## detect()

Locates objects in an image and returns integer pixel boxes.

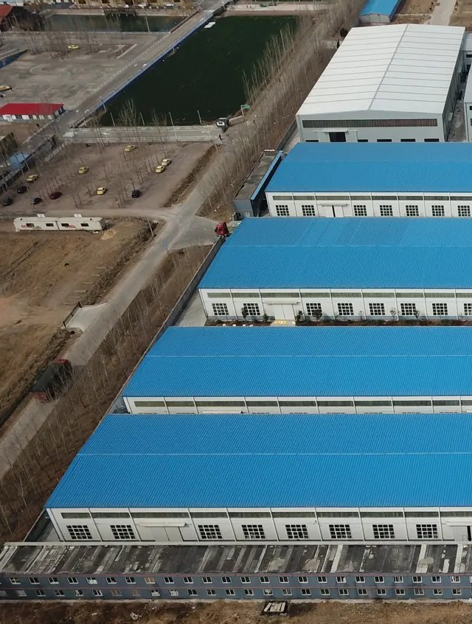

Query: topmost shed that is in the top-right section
[357,0,404,22]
